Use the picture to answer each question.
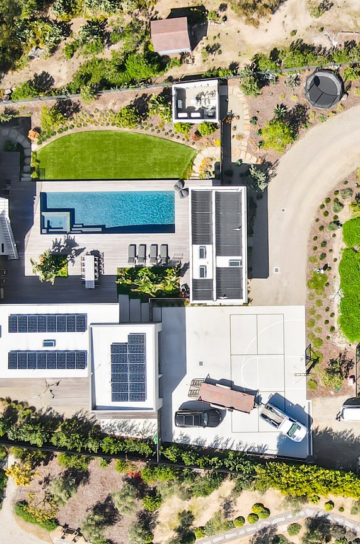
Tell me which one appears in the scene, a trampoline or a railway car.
trampoline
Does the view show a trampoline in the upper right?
Yes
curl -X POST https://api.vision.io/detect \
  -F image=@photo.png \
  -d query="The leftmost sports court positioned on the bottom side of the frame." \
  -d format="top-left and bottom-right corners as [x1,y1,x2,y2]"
[157,305,307,456]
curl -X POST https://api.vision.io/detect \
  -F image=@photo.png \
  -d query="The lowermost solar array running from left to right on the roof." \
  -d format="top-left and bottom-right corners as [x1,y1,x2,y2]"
[8,351,87,369]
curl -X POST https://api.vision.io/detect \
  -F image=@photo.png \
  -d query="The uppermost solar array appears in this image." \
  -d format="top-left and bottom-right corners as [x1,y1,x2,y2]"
[8,315,87,332]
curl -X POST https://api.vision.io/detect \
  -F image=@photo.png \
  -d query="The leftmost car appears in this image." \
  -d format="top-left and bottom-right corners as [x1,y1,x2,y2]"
[176,409,222,429]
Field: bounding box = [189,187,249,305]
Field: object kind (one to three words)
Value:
building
